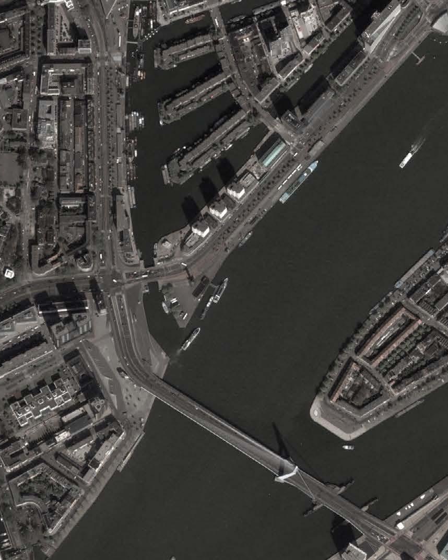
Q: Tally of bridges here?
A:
1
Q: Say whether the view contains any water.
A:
Yes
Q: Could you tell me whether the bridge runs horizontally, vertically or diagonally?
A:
diagonally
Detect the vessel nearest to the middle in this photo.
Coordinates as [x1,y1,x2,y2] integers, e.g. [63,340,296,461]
[213,278,228,303]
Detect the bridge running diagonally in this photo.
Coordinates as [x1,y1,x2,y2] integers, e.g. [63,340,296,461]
[109,289,398,546]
